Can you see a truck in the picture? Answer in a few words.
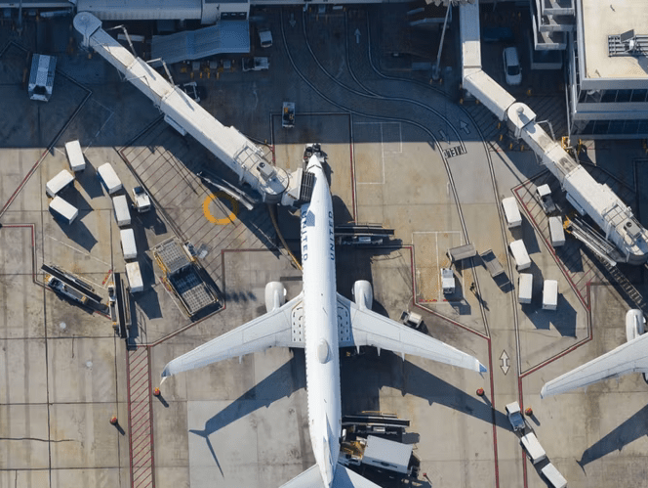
Yes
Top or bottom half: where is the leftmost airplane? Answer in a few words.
bottom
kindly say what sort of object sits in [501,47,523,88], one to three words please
vehicle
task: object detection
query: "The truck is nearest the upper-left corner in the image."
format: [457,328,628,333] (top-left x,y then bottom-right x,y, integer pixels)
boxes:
[28,51,55,103]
